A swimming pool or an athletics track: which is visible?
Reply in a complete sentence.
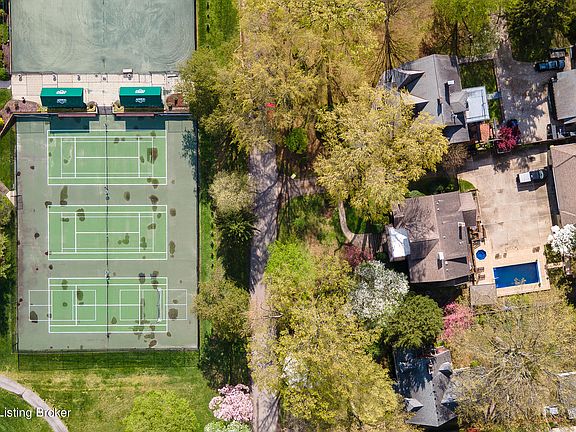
It is a swimming pool that can be seen here.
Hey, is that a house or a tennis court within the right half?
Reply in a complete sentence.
You can see a house within the right half.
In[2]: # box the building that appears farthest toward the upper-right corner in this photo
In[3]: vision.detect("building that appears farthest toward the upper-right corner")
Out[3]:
[548,74,576,120]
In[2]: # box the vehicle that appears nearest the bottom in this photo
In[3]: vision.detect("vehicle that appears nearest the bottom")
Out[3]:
[516,169,546,183]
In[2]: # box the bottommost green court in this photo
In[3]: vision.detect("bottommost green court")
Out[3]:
[29,278,187,333]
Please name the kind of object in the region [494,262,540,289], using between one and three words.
swimming pool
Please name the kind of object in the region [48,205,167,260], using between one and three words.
tennis court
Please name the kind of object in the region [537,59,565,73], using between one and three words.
vehicle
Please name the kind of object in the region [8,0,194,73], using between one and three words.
tennis court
